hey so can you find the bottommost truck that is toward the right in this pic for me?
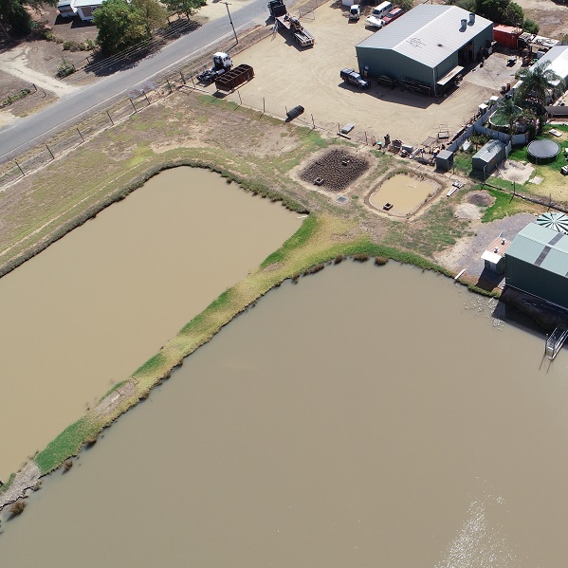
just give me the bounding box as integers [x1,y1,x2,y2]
[341,67,368,88]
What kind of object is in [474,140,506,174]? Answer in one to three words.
shed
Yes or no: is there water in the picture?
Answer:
Yes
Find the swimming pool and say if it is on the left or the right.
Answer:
right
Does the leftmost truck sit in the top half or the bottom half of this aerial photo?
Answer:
top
